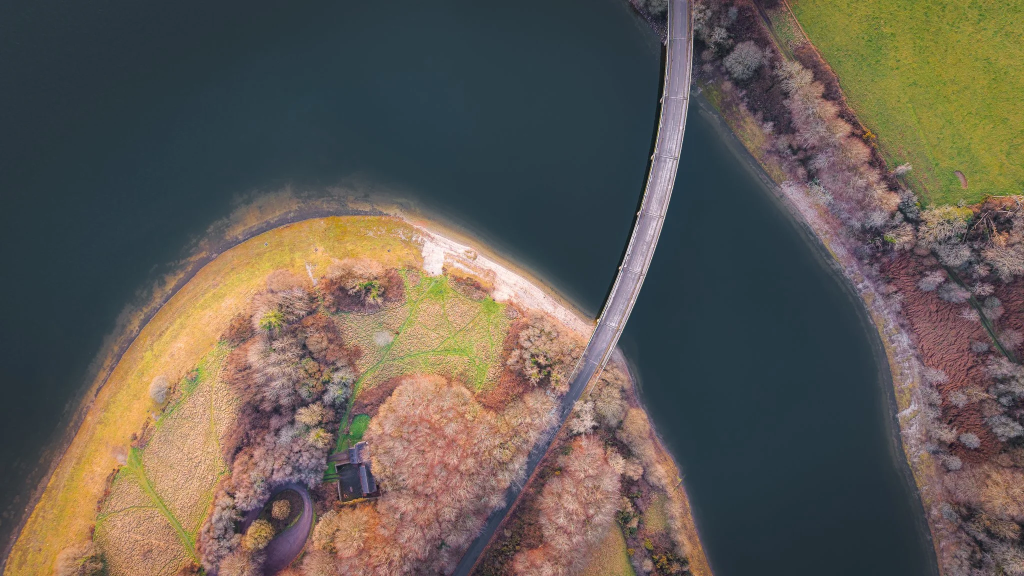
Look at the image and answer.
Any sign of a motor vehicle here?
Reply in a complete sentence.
No, there isn't any motor vehicle down there.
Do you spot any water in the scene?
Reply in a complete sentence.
Yes, there is water in the image.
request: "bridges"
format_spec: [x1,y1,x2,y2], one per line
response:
[567,0,694,396]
